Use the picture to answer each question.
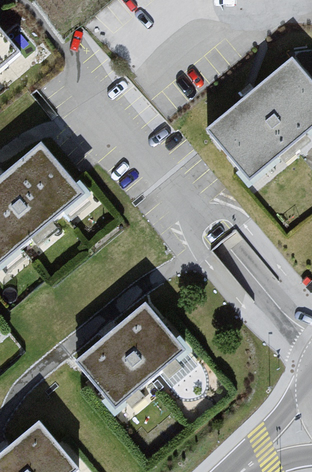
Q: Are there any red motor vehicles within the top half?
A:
Yes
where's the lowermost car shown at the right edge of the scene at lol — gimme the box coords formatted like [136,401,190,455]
[295,310,312,325]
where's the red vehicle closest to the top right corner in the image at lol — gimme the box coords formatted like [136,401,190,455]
[188,68,204,88]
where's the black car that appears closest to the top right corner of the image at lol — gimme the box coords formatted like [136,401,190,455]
[176,73,195,97]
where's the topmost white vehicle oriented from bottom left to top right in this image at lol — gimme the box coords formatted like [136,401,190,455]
[108,80,128,98]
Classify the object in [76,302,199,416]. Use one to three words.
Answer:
building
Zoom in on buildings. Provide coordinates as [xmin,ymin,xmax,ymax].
[76,302,199,416]
[0,28,22,70]
[0,420,80,472]
[206,56,312,188]
[0,142,93,272]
